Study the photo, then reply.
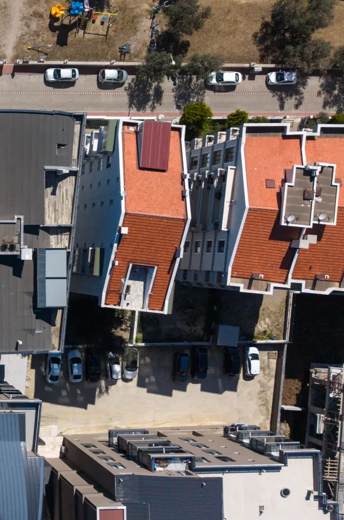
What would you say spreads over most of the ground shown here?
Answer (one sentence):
Most of the picture is covered by buildings.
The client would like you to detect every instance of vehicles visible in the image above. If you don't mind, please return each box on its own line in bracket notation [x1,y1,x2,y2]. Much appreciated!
[207,72,242,86]
[296,112,314,129]
[265,70,298,86]
[85,351,103,383]
[105,350,124,381]
[190,347,210,379]
[45,351,63,385]
[171,351,191,383]
[97,69,128,85]
[66,349,84,383]
[122,346,140,378]
[222,346,241,377]
[44,67,79,83]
